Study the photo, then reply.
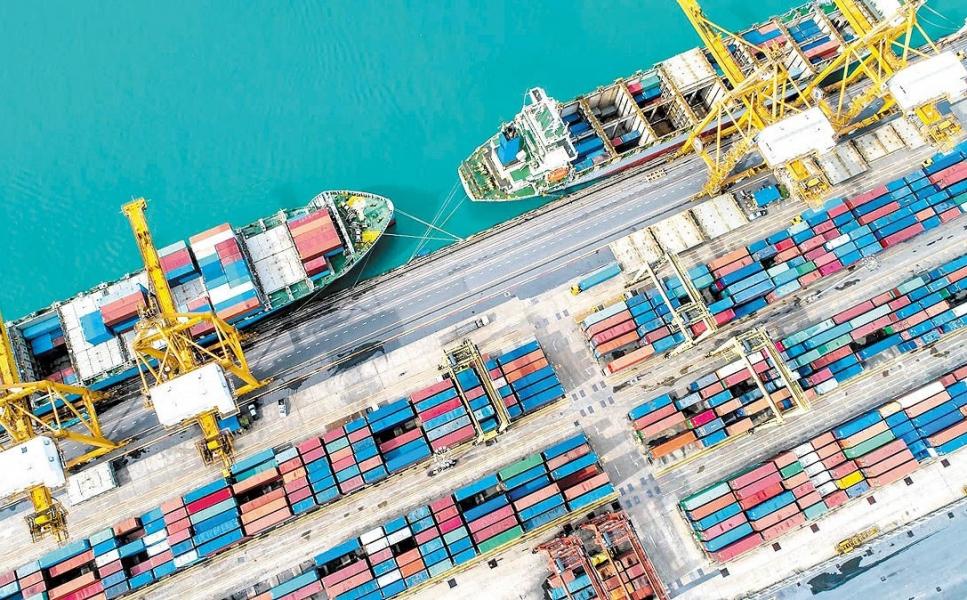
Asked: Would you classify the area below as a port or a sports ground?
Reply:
port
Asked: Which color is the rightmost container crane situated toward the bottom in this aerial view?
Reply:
white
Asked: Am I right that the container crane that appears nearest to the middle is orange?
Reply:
No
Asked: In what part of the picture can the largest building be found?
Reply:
bottom left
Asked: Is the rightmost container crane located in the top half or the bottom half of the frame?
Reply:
top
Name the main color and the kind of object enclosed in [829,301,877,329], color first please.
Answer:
pink shipping container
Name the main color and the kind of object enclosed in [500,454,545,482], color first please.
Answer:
green shipping container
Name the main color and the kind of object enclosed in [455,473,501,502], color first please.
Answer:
blue shipping container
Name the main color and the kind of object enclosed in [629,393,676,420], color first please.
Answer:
blue shipping container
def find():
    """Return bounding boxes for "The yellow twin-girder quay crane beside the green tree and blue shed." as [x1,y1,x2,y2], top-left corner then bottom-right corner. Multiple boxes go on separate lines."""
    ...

[670,0,836,211]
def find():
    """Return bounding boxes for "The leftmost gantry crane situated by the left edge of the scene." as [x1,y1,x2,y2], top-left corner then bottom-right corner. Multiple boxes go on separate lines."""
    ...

[0,265,148,564]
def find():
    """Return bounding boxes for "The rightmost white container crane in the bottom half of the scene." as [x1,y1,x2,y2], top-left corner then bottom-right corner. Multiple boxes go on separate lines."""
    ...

[704,324,818,436]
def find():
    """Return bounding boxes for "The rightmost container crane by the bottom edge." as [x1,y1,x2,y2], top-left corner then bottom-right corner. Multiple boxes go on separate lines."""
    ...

[576,500,670,600]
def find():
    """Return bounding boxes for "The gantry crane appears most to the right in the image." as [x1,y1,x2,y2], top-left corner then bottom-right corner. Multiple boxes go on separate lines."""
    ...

[782,0,967,153]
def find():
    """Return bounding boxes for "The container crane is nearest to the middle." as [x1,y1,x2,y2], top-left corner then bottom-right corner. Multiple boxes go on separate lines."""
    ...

[437,337,521,446]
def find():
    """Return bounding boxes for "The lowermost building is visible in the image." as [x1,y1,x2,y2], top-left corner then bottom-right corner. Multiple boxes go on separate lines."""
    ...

[68,460,122,503]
